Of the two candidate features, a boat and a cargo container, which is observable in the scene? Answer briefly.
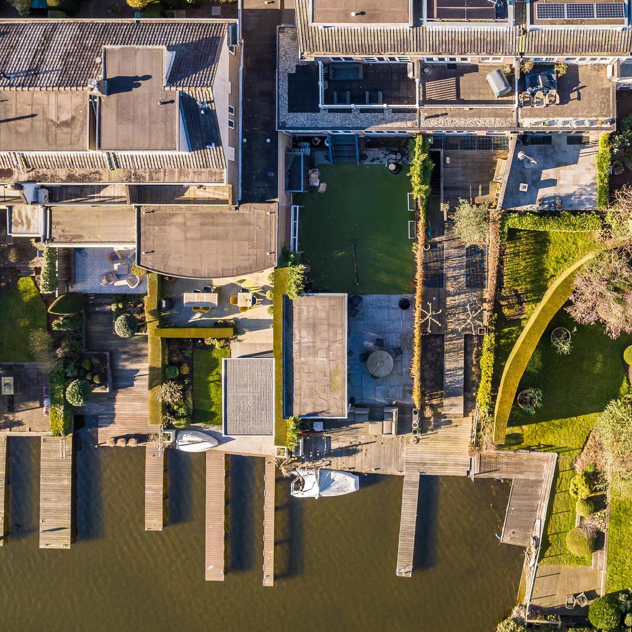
boat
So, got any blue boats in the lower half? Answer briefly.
No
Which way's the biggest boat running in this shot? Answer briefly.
horizontally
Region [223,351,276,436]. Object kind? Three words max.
shed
